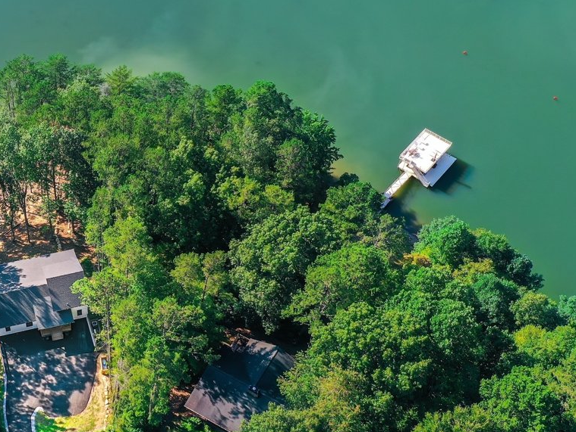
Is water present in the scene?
Yes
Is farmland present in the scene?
No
